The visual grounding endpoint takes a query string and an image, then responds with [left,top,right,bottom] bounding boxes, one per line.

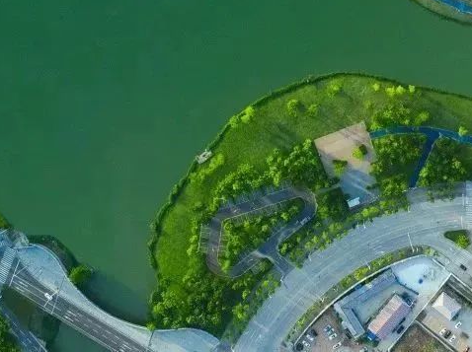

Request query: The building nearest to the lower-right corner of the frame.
[433,294,462,324]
